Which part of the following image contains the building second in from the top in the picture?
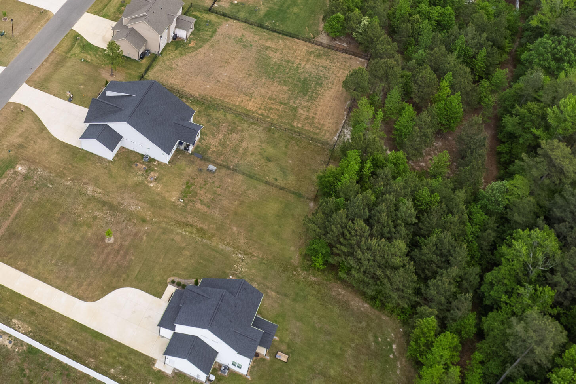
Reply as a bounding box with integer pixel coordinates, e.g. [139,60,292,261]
[79,79,204,165]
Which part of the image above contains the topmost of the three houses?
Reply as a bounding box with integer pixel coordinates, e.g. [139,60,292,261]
[111,0,197,60]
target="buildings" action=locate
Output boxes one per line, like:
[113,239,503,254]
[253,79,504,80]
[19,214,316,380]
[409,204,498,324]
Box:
[156,274,278,384]
[79,79,204,165]
[111,0,197,60]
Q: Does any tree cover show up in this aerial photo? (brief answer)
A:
Yes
